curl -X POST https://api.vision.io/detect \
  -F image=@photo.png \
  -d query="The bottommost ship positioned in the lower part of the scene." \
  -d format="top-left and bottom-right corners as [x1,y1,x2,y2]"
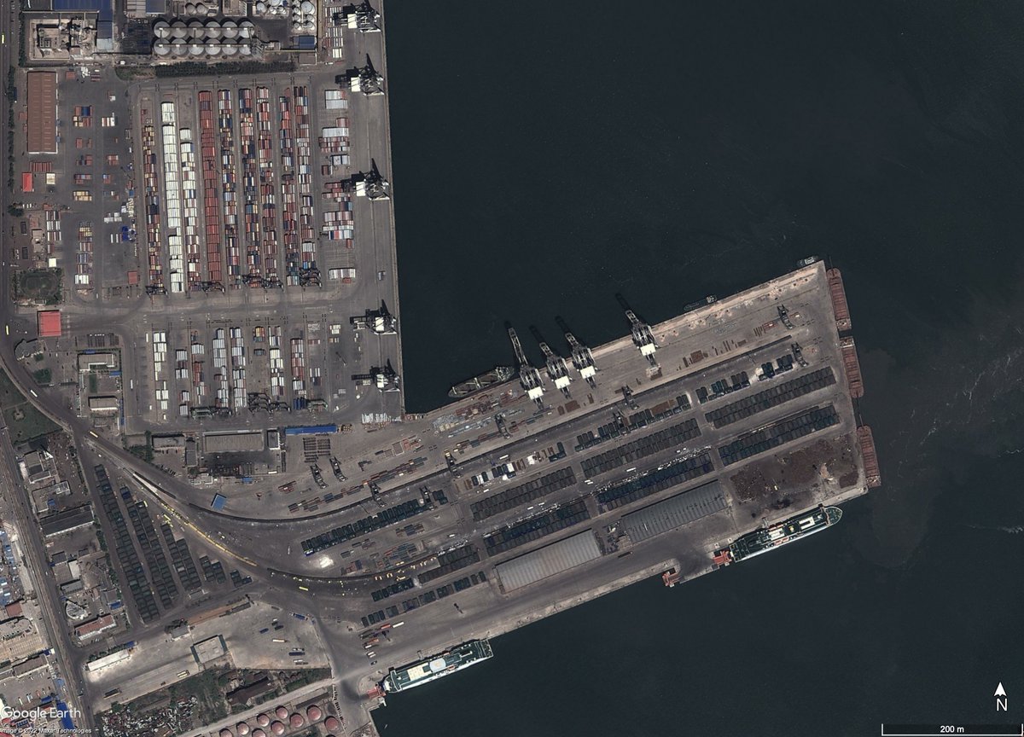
[382,640,494,690]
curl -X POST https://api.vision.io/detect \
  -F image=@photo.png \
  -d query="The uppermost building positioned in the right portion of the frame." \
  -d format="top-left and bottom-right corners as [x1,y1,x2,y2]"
[622,481,728,545]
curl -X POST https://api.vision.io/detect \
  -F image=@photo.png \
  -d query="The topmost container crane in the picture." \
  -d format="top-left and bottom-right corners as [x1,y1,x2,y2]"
[334,3,382,35]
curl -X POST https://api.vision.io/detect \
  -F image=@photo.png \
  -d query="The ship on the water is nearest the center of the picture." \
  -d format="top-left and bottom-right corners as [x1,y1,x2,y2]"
[449,367,515,397]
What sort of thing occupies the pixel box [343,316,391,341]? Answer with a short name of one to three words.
container crane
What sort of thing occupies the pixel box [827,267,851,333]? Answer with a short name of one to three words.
ship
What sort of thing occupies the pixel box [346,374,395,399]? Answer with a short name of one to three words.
container crane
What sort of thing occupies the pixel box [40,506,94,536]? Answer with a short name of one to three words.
shed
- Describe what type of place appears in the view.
port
